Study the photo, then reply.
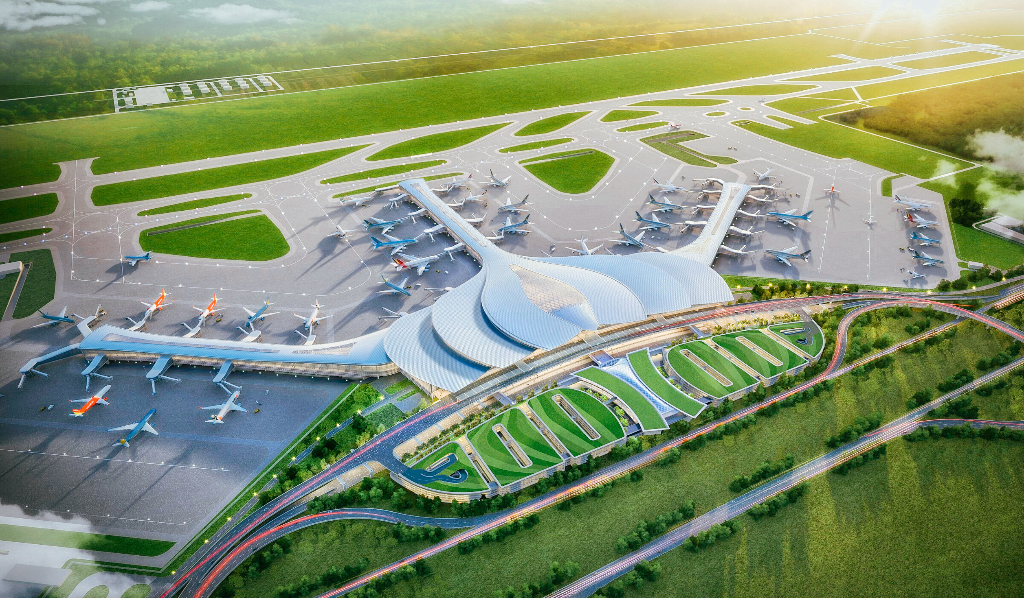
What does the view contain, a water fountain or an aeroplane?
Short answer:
aeroplane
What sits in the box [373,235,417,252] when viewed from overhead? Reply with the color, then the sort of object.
blue airplane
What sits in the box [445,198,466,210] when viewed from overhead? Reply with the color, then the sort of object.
white jet bridge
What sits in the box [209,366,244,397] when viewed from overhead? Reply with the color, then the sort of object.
blue jet bridge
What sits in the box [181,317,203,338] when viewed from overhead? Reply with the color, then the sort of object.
white jet bridge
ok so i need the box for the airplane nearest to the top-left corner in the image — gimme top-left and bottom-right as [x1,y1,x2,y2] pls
[125,253,152,265]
